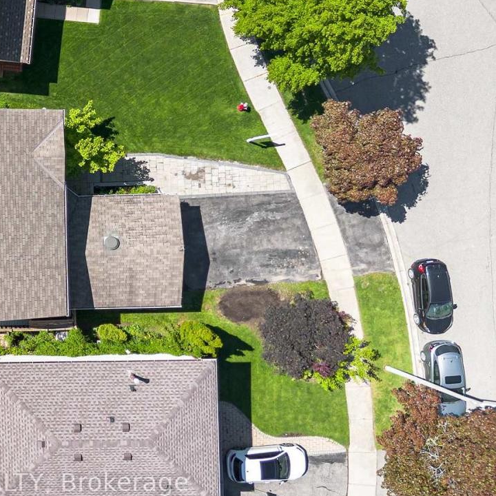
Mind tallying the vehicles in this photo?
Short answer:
3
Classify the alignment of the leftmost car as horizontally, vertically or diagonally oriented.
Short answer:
horizontally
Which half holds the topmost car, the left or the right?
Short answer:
right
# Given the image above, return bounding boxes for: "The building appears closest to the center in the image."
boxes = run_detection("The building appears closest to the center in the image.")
[69,186,185,311]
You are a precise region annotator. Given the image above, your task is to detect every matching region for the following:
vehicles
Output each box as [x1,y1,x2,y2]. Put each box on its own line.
[419,341,467,419]
[407,259,456,335]
[231,444,311,485]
